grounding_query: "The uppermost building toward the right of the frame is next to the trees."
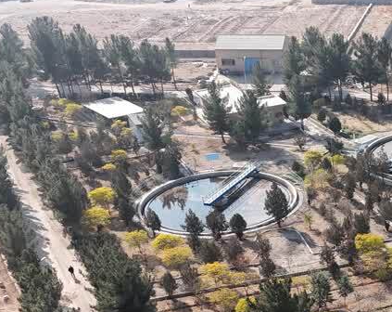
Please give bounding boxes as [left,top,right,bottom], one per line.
[210,35,298,77]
